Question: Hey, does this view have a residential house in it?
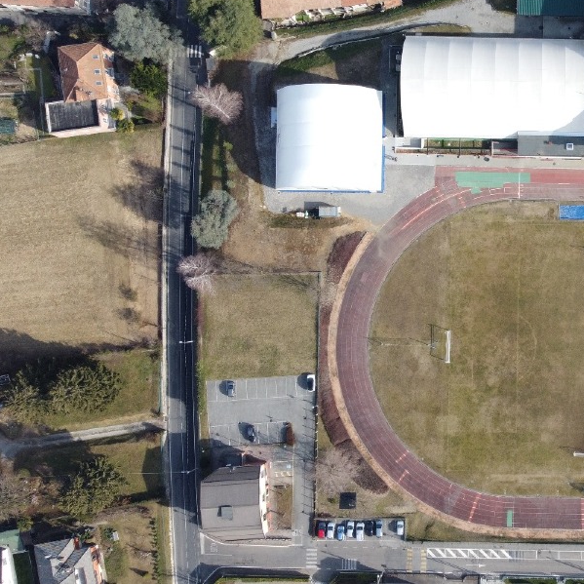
Yes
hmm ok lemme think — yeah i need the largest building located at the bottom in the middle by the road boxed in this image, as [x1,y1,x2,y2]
[200,463,271,542]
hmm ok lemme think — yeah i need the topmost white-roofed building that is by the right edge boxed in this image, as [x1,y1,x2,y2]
[400,40,584,141]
